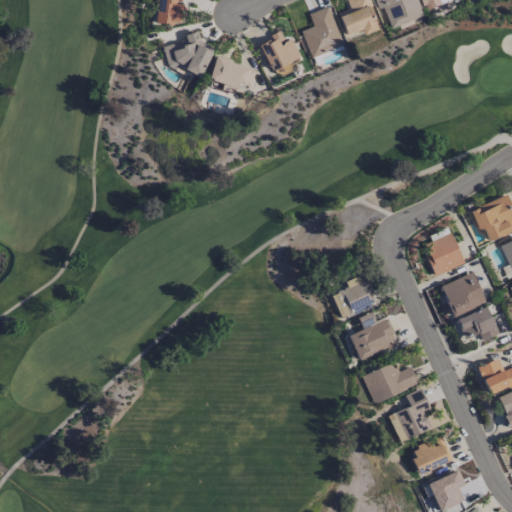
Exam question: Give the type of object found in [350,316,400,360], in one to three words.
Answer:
house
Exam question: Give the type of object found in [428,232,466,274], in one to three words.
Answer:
house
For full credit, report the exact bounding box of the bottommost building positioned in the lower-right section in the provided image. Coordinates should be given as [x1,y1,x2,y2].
[428,469,467,511]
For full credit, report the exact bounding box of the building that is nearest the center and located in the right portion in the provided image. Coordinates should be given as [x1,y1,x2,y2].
[333,279,377,318]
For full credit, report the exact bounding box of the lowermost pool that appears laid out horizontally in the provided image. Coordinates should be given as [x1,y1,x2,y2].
[207,93,229,107]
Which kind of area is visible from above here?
golf course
